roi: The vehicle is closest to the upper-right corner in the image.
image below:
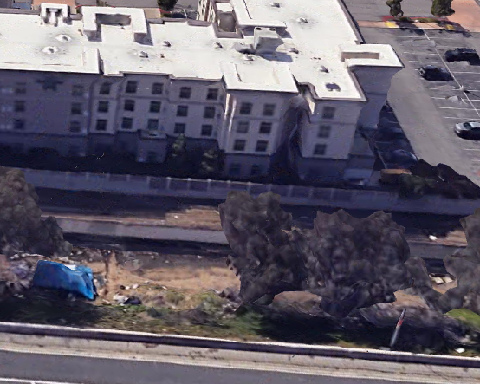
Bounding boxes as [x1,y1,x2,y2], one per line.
[446,47,479,62]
